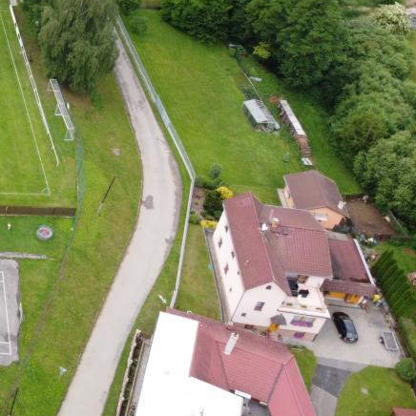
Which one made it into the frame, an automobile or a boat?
automobile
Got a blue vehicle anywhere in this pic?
No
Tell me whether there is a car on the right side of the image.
Yes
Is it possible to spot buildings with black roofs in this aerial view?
No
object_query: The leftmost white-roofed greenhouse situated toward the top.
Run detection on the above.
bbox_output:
[236,95,279,131]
